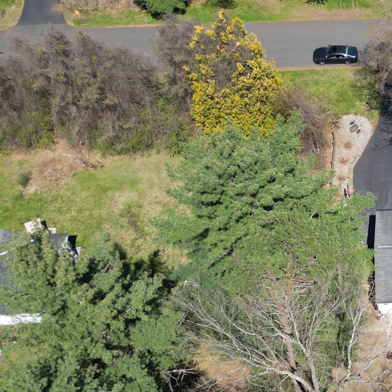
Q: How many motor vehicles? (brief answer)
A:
1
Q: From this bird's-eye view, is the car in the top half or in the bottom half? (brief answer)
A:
top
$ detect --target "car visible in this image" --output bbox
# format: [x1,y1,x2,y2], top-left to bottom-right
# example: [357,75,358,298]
[310,43,359,64]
